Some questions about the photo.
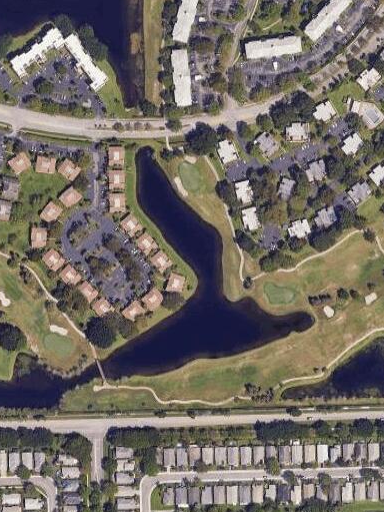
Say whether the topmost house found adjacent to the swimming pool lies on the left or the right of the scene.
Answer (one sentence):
You can find the topmost house found adjacent to the swimming pool on the right side of the picture.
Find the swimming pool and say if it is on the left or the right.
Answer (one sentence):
It is on the right.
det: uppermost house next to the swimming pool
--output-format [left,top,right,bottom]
[357,69,382,92]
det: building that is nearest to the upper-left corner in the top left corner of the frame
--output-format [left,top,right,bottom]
[9,28,64,77]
